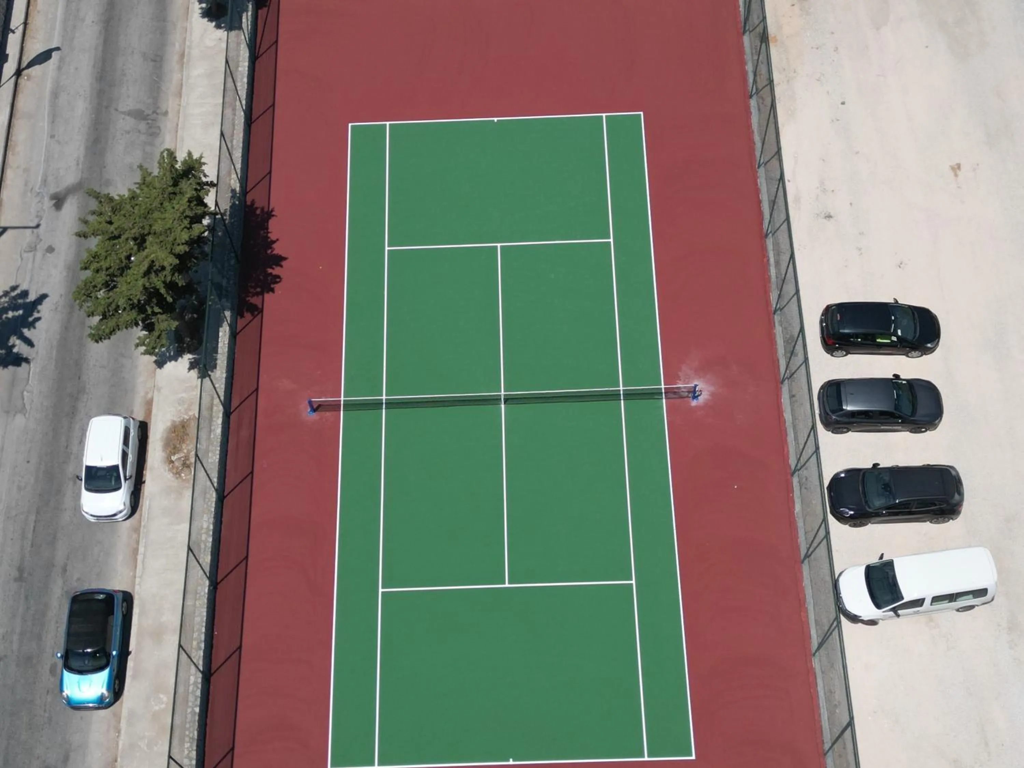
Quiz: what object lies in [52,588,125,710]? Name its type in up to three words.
car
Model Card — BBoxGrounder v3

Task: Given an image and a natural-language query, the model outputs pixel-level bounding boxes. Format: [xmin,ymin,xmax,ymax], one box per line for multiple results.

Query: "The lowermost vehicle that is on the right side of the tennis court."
[836,547,997,625]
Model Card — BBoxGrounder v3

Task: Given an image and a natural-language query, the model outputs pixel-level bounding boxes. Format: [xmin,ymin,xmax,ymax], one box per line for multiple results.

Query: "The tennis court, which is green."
[203,0,825,768]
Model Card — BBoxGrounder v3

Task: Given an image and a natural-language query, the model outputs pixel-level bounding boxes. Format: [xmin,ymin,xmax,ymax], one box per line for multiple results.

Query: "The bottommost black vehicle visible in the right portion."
[826,460,964,527]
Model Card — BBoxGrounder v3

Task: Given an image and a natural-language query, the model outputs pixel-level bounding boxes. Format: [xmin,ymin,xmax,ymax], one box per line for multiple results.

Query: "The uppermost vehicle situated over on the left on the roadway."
[73,413,141,522]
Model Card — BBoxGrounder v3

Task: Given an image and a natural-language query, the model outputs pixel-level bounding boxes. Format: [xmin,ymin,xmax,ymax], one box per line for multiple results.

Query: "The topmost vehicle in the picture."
[819,297,940,358]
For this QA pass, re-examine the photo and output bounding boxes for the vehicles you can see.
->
[52,588,125,710]
[818,371,943,433]
[826,460,964,527]
[836,547,997,625]
[73,413,141,522]
[819,297,940,358]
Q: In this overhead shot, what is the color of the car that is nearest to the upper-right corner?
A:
black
